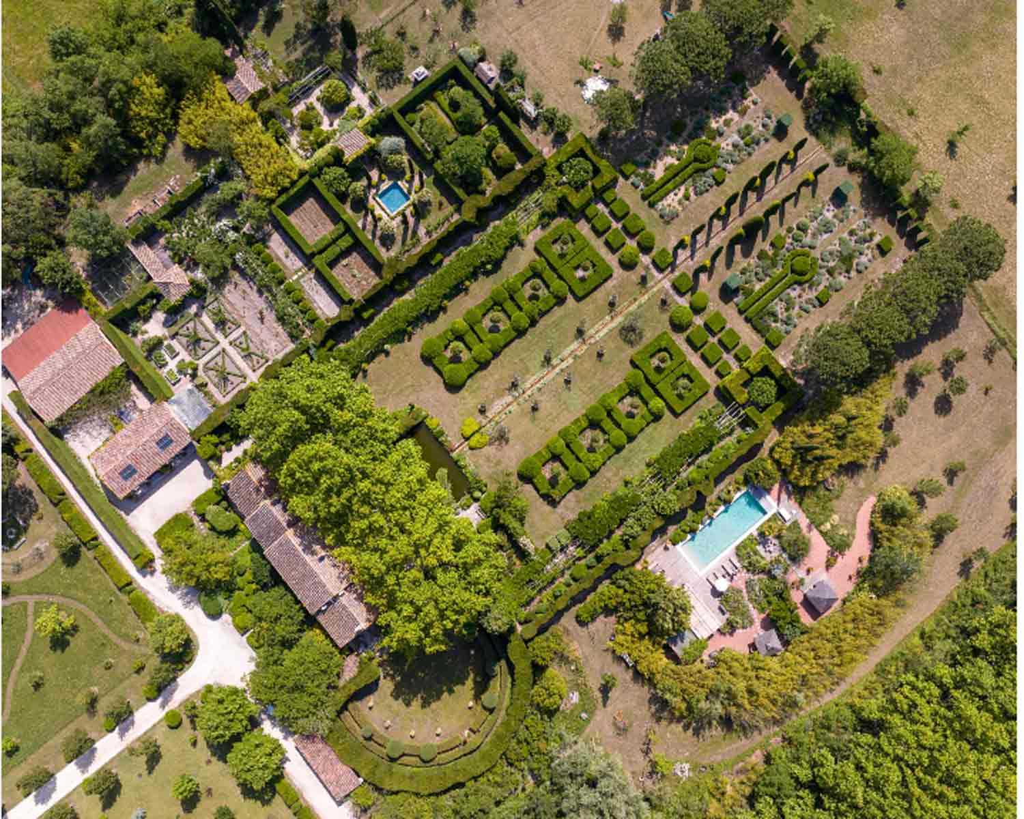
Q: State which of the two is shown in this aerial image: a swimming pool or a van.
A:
swimming pool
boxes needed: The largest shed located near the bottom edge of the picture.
[295,730,362,803]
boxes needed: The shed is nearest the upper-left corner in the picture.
[228,61,267,108]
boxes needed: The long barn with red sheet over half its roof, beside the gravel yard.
[1,300,125,421]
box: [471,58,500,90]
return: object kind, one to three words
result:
shed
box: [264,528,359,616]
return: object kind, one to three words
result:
house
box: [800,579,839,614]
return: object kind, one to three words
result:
building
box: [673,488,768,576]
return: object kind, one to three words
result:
swimming pool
